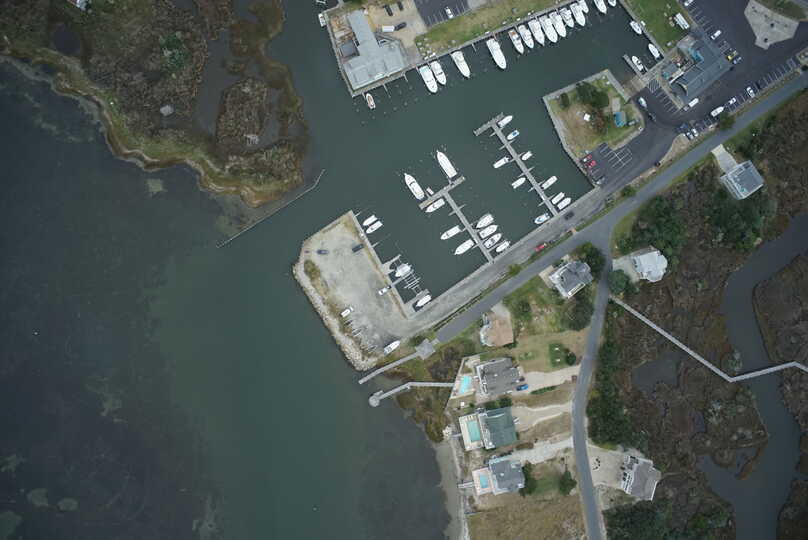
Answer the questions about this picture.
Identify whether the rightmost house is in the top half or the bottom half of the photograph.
top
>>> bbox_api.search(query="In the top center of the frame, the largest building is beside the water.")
[344,6,407,90]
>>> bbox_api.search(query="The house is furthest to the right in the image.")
[718,160,766,201]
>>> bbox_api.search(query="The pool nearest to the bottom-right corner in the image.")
[473,468,495,496]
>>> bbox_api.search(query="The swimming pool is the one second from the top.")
[459,414,484,451]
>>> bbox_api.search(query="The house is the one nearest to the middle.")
[479,311,516,347]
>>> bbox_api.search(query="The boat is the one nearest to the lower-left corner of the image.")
[383,342,400,355]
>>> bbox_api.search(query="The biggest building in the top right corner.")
[670,33,733,103]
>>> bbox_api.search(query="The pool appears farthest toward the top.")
[451,358,479,399]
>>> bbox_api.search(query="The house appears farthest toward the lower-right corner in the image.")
[619,454,663,501]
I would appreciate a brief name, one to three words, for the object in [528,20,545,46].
boat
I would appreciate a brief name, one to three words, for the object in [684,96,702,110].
vehicle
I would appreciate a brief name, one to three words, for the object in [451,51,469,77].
boat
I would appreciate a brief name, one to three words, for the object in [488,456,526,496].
house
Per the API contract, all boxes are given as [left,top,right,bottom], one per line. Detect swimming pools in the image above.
[473,468,495,496]
[459,414,484,451]
[451,358,479,399]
